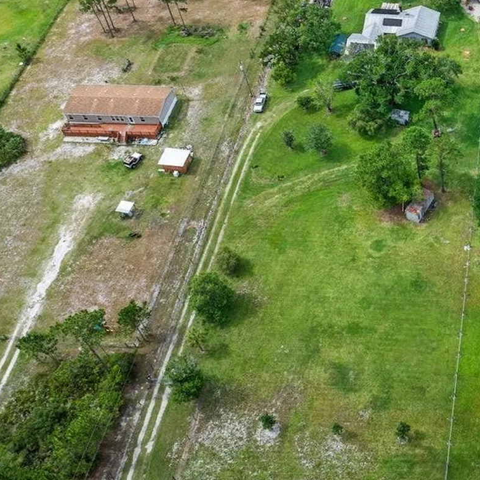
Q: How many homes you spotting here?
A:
2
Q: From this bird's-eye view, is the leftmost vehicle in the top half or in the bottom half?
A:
top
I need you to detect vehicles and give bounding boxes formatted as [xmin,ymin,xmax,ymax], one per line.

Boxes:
[250,92,269,114]
[117,151,148,172]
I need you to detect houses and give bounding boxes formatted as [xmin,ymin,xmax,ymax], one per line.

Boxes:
[60,85,179,149]
[345,5,442,59]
